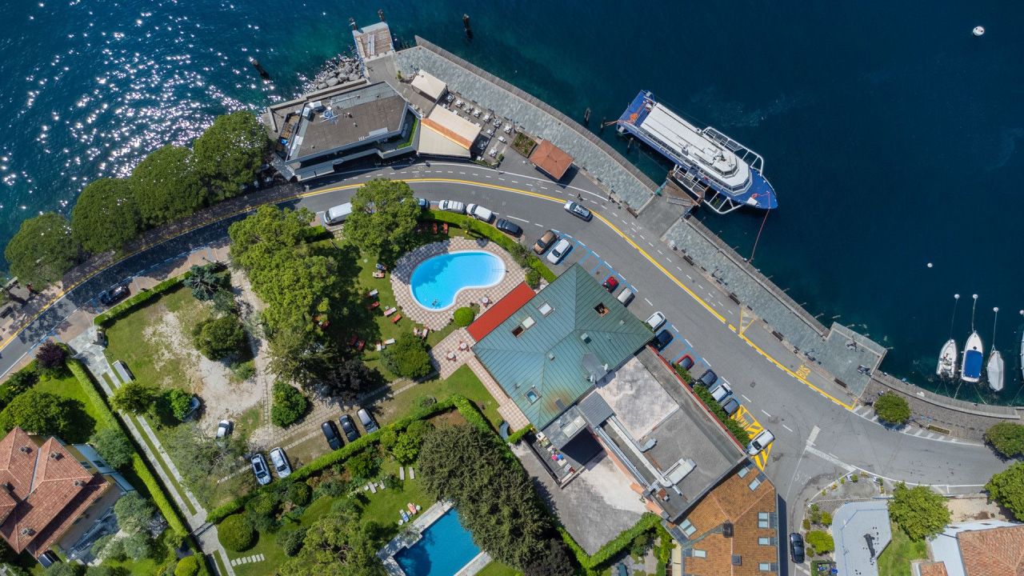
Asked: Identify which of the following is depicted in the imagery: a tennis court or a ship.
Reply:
ship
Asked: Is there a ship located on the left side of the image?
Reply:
No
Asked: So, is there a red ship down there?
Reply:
No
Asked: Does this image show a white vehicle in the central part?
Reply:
Yes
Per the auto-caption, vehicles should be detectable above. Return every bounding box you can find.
[251,454,272,484]
[721,394,743,416]
[644,308,667,332]
[270,446,292,475]
[650,328,674,352]
[438,199,468,213]
[563,200,592,222]
[183,395,203,419]
[466,203,495,223]
[679,352,696,369]
[616,286,635,305]
[745,429,773,456]
[340,413,361,441]
[708,380,734,403]
[320,420,344,448]
[324,202,355,223]
[547,238,572,264]
[495,218,521,238]
[692,365,719,388]
[358,406,378,433]
[602,273,621,293]
[533,230,558,254]
[788,532,804,563]
[217,419,232,444]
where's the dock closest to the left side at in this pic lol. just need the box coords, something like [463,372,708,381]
[351,22,396,80]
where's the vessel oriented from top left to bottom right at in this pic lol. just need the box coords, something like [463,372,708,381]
[617,90,779,214]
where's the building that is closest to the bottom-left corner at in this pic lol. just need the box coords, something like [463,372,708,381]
[0,426,141,559]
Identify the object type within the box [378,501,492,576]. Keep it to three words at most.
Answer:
swimming pool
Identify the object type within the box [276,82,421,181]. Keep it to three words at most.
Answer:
building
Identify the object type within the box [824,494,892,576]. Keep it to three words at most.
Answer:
building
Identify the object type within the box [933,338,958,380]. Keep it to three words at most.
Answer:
boat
